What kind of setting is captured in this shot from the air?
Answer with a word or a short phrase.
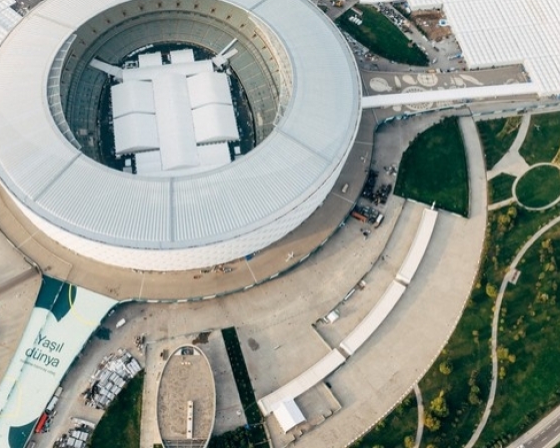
sports ground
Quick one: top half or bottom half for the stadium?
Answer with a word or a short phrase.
top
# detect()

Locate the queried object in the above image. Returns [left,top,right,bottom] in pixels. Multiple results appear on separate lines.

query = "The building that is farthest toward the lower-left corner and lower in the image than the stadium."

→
[155,343,218,448]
